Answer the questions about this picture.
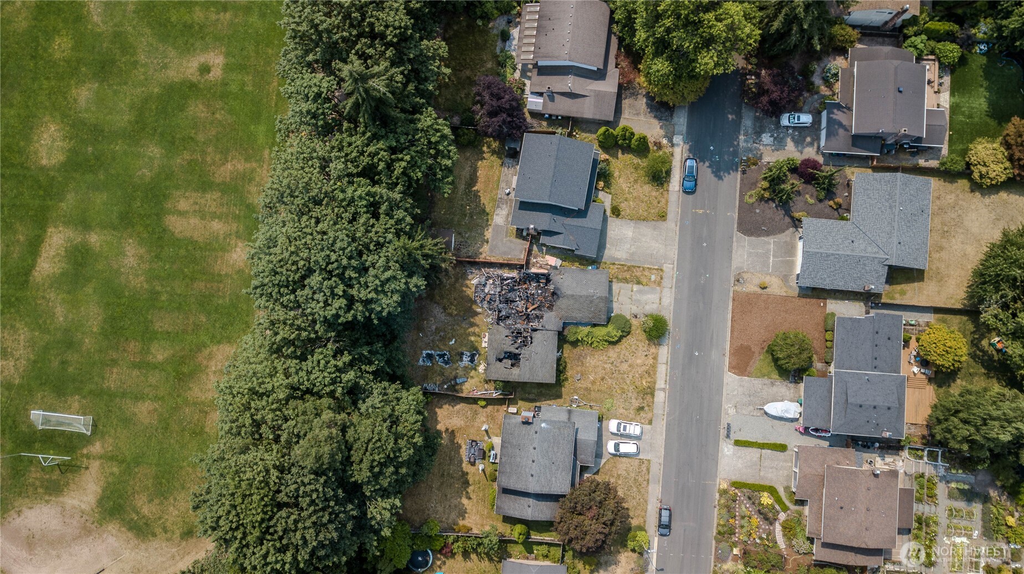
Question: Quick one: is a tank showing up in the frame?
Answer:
No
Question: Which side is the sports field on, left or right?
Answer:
left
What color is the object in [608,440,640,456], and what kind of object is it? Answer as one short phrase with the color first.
white car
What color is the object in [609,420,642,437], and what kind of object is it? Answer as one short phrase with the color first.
white car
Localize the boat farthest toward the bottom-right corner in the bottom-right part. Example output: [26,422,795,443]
[805,428,828,441]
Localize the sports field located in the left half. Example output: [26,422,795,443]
[0,0,325,574]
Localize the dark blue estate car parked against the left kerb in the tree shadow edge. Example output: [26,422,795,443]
[681,158,697,192]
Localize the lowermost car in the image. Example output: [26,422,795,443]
[657,505,673,535]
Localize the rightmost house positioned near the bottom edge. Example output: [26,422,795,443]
[787,444,915,566]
